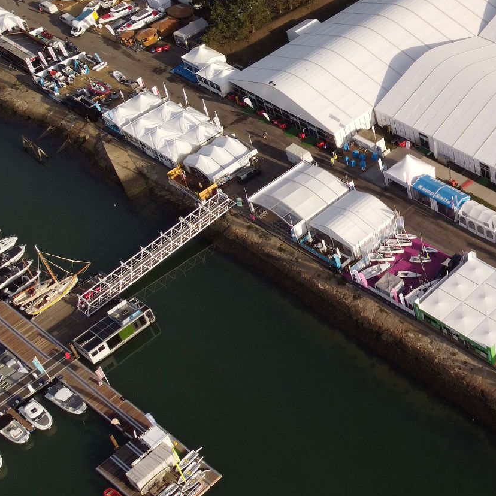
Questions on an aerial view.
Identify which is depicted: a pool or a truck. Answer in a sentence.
There is a truck in the scene.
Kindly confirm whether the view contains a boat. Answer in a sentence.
Yes, I can see a boat in this picture.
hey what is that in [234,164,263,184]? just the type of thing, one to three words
vehicle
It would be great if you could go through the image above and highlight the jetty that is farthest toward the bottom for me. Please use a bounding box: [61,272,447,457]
[95,421,223,496]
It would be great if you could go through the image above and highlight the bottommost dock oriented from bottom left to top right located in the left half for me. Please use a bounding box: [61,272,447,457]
[0,347,81,409]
